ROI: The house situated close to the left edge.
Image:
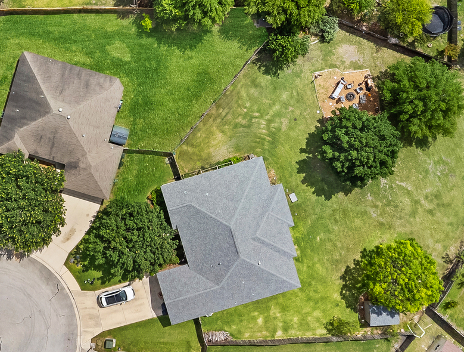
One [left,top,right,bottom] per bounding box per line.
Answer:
[0,51,124,199]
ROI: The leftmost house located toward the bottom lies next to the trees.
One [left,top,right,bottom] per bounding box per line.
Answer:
[157,156,301,325]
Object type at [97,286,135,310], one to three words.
car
